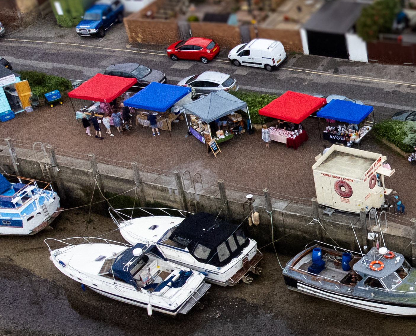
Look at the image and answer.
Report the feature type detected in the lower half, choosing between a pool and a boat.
boat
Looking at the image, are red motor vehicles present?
Yes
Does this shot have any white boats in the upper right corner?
No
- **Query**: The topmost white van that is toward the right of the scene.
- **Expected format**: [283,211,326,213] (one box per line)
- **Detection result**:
[226,37,291,71]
